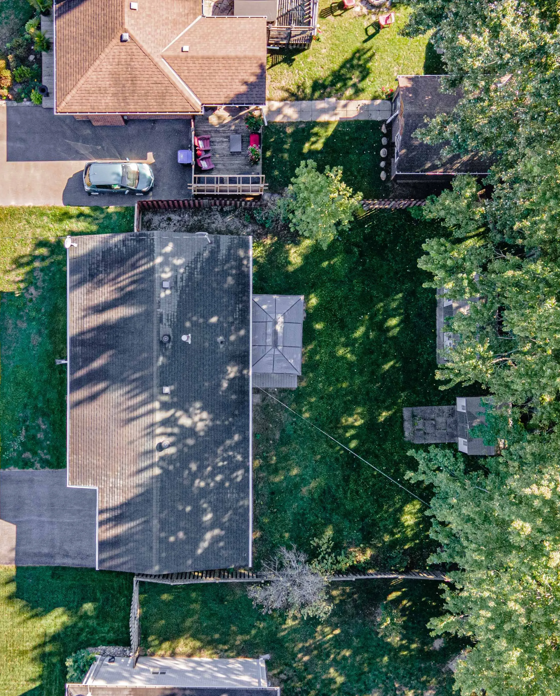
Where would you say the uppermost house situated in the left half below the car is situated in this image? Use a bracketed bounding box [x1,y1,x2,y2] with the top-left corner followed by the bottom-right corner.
[65,232,253,574]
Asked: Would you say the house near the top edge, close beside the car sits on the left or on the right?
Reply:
left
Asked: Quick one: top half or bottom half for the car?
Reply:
top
